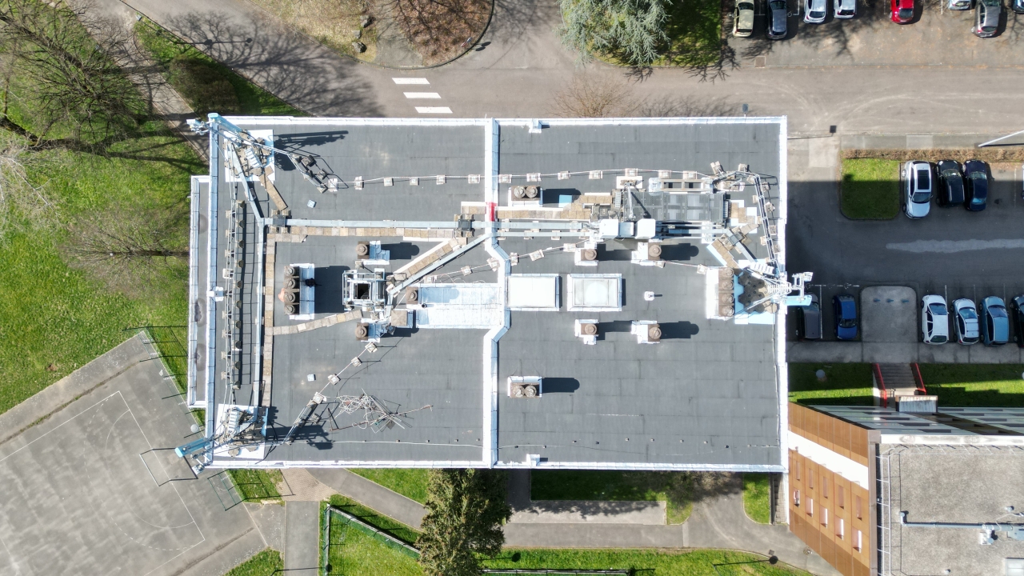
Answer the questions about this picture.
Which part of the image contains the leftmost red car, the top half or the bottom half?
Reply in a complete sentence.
You can find the leftmost red car in the top half.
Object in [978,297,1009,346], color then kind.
blue car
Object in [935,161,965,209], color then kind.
black car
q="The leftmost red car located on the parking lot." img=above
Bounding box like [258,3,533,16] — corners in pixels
[887,0,912,25]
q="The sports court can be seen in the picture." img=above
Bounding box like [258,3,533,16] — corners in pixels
[0,333,276,576]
